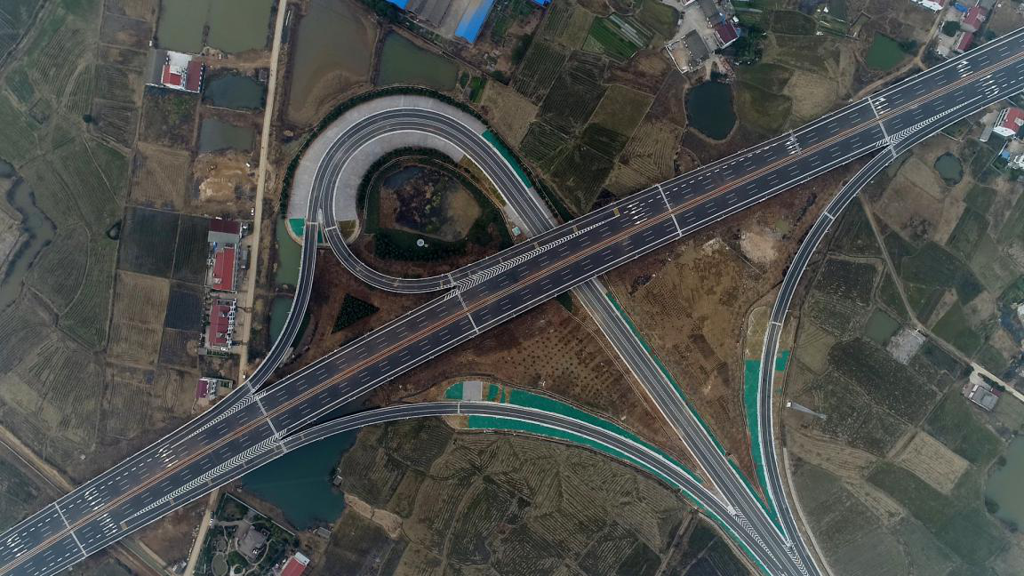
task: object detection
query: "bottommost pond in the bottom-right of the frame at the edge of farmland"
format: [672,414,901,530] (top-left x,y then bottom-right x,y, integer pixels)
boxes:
[983,433,1024,535]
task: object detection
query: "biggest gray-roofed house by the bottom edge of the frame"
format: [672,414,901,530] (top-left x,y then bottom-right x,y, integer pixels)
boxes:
[238,526,270,560]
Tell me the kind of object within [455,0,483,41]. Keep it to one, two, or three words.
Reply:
building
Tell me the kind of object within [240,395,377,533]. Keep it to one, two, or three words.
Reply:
pond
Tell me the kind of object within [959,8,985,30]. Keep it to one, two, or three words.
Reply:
house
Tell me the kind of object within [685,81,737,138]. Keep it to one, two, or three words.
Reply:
pond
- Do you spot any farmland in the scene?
Yes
